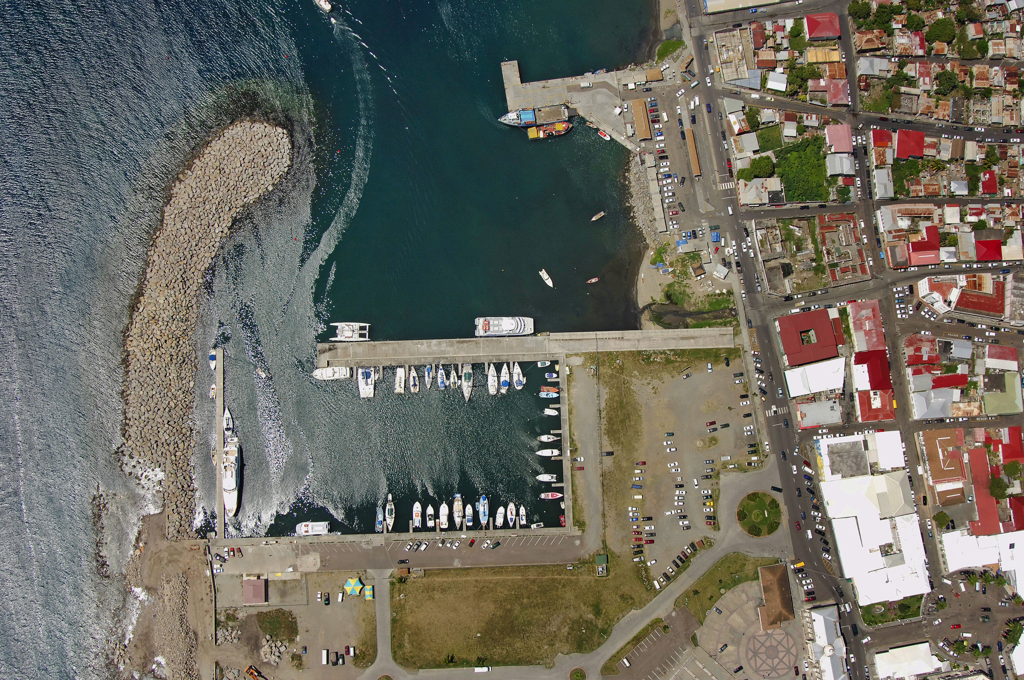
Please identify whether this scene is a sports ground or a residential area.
residential area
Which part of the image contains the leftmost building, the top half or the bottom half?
bottom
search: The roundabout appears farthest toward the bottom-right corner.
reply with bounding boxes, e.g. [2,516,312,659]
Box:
[736,492,782,537]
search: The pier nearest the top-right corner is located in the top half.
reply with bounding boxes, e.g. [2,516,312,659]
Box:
[501,61,641,152]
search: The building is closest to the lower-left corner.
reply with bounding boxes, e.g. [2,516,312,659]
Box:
[243,578,266,603]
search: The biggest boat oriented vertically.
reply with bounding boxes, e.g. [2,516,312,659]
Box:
[222,442,241,517]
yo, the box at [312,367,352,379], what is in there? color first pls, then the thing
white boat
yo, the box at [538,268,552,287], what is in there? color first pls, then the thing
white boat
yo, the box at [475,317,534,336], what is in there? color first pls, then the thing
white ship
